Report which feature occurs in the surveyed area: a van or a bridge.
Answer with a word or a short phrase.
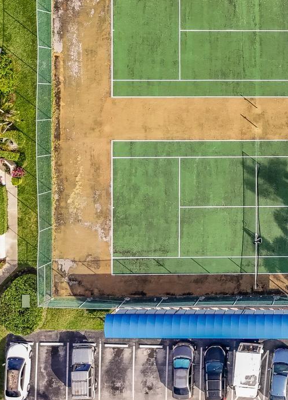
van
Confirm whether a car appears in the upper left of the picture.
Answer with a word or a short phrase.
No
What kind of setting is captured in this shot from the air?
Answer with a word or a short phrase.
sports ground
